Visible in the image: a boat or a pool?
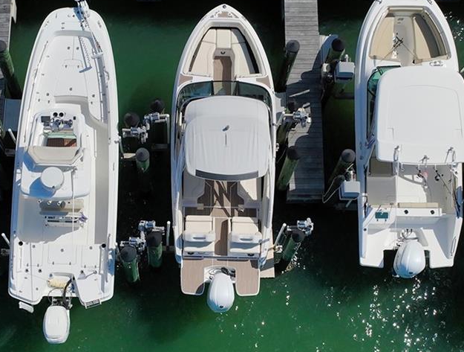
boat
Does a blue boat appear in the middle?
No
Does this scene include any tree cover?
No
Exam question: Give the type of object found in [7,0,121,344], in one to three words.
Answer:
boat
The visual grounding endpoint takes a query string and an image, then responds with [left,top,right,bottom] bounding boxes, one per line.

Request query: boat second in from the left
[169,2,277,313]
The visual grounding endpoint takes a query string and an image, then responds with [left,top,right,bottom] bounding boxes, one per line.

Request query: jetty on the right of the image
[284,0,324,203]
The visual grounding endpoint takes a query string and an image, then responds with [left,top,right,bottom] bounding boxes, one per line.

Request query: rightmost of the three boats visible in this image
[353,0,464,280]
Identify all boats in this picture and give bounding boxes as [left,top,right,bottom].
[7,0,121,344]
[169,2,277,313]
[353,0,464,280]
